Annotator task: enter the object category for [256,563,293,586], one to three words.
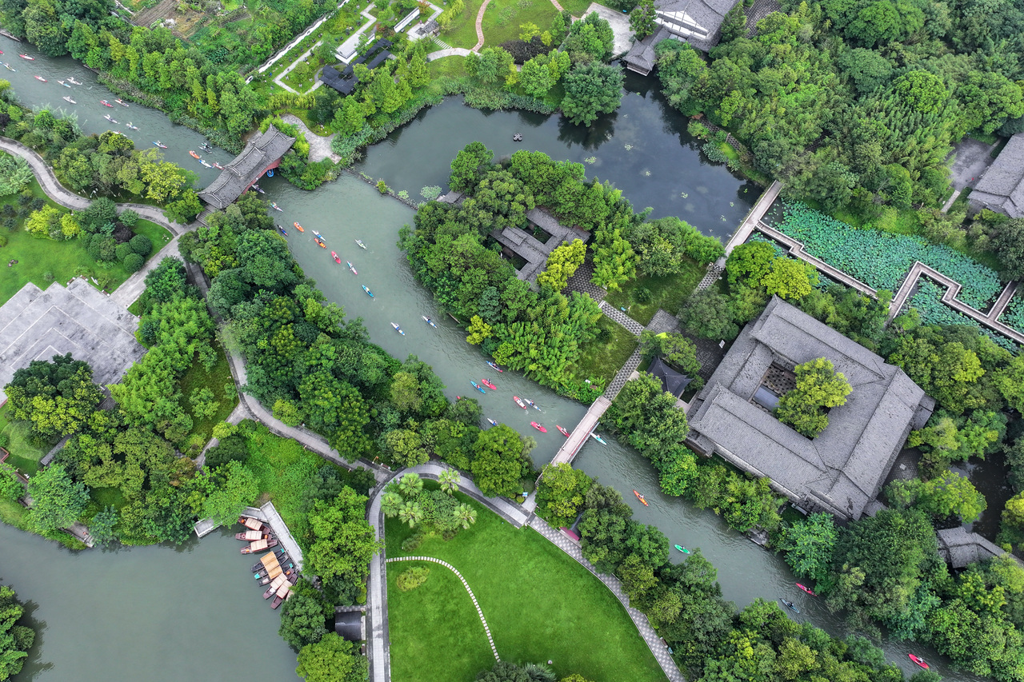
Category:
boat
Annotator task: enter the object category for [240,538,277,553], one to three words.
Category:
boat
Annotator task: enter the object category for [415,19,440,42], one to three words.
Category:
shed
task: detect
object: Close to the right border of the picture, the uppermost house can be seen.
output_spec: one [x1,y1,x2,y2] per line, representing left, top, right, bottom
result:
[965,128,1024,224]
